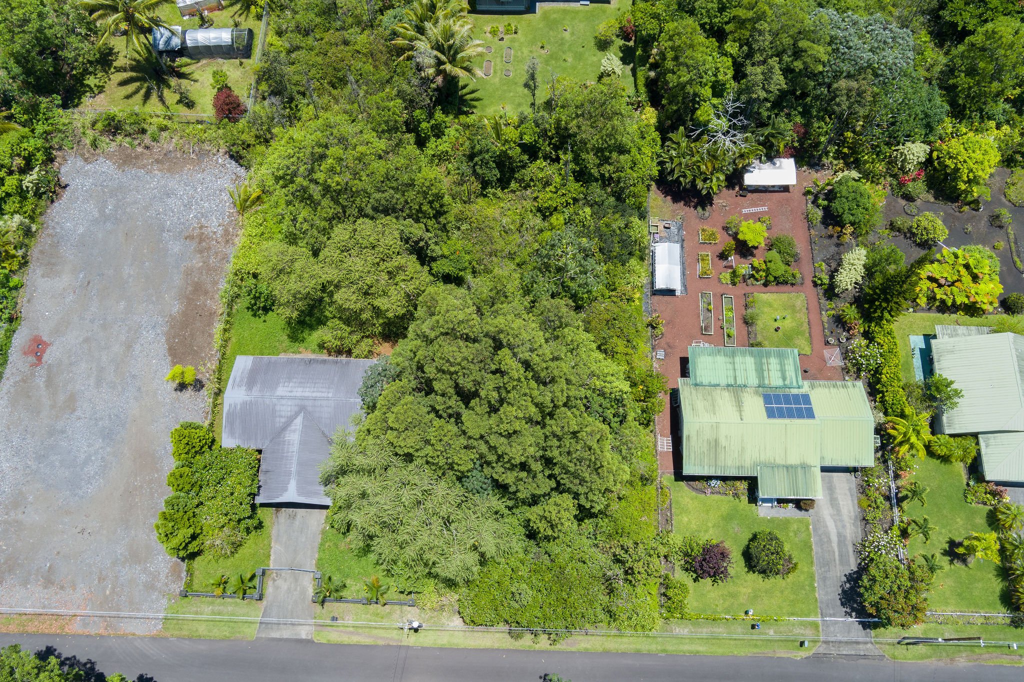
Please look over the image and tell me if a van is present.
No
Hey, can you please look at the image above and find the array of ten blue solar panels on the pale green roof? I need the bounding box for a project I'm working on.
[762,392,816,418]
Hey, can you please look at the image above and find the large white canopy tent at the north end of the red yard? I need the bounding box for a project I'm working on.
[738,159,797,195]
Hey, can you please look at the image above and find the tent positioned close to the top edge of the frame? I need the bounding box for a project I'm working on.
[179,30,259,62]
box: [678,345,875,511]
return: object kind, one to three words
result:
house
